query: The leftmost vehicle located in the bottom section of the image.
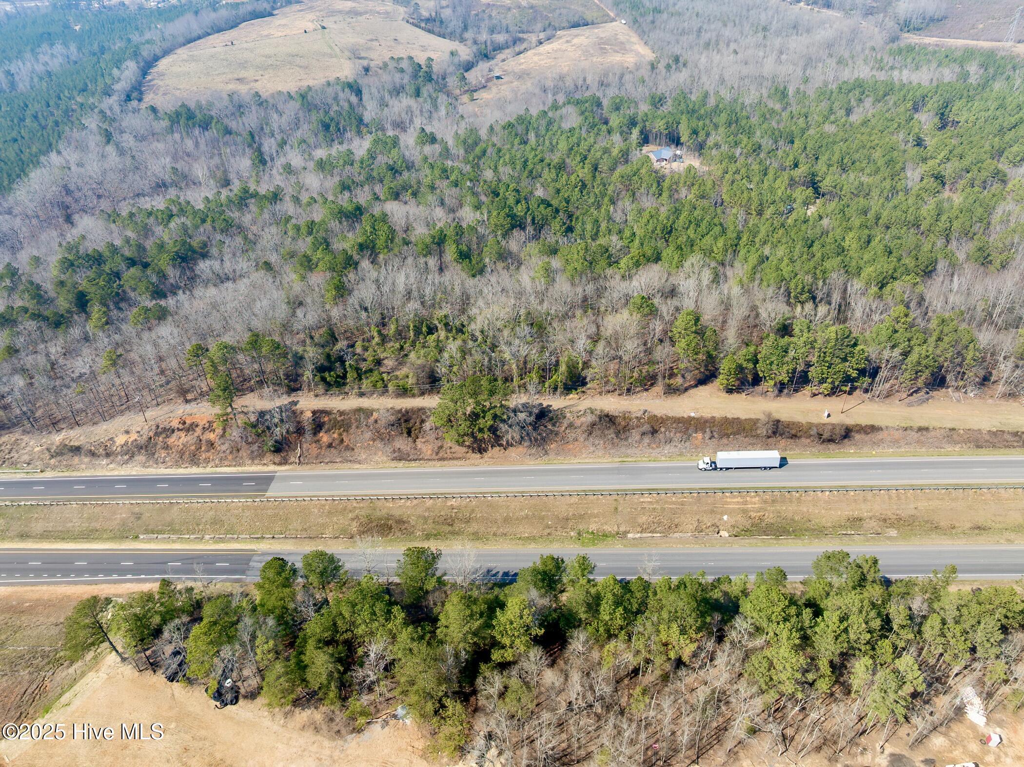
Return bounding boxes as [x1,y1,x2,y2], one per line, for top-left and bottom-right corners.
[696,451,782,470]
